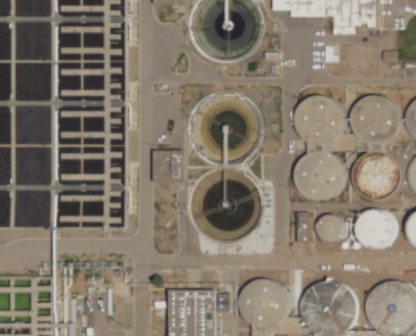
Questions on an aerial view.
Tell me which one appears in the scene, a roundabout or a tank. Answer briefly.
tank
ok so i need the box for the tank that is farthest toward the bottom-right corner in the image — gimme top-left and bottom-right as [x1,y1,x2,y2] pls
[366,280,416,336]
